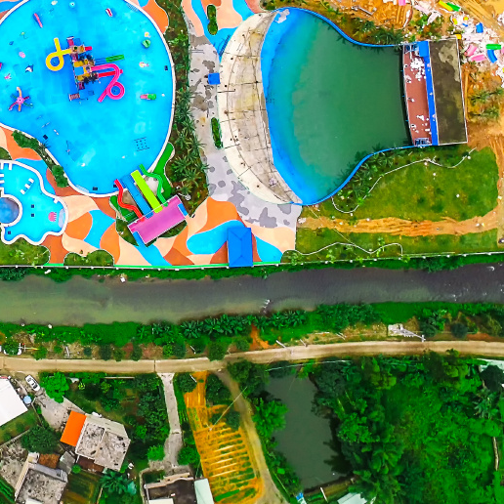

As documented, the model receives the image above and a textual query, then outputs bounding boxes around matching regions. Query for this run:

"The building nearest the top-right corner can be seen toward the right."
[403,38,468,145]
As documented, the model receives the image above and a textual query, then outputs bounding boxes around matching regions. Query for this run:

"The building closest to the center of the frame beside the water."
[226,227,253,267]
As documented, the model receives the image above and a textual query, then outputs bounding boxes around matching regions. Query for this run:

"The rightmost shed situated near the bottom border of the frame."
[333,486,369,504]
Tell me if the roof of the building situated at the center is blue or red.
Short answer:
blue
